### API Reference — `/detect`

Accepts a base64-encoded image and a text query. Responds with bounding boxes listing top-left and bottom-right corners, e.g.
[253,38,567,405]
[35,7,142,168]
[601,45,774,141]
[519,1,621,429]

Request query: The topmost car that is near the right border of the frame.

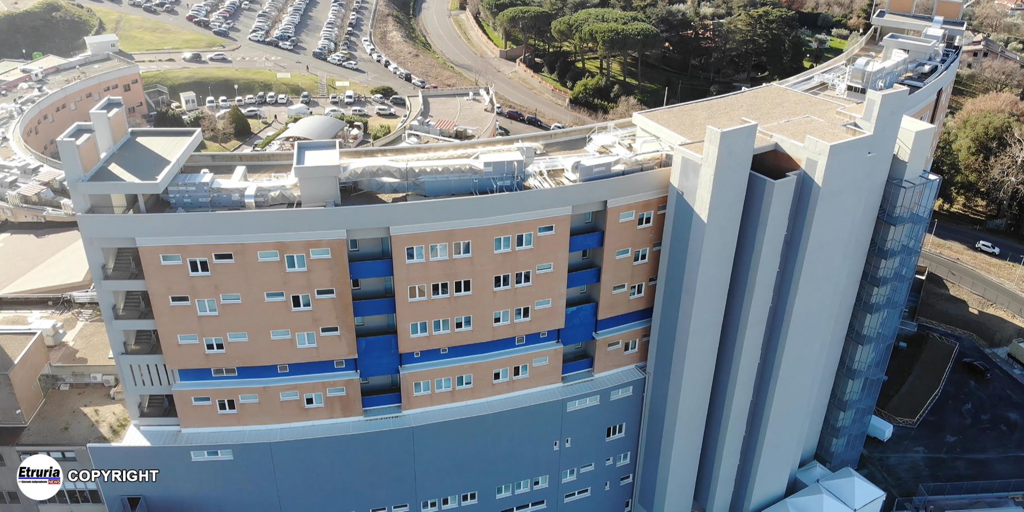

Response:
[973,237,1005,254]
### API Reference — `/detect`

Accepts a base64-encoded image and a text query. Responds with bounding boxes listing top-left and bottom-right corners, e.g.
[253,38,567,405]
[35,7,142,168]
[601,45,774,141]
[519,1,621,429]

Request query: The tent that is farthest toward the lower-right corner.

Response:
[817,466,886,512]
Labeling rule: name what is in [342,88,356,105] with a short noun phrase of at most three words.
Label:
vehicle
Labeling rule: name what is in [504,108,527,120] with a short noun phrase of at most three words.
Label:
vehicle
